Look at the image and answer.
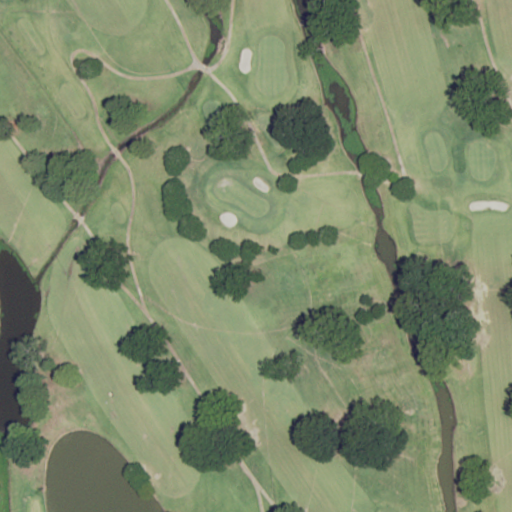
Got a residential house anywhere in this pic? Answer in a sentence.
No, this view has no residential house in it.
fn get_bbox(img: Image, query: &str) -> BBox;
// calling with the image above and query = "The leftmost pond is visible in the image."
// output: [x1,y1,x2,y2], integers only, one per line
[0,254,40,432]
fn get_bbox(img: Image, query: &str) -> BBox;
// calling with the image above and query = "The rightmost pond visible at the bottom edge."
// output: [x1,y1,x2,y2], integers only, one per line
[46,431,164,512]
